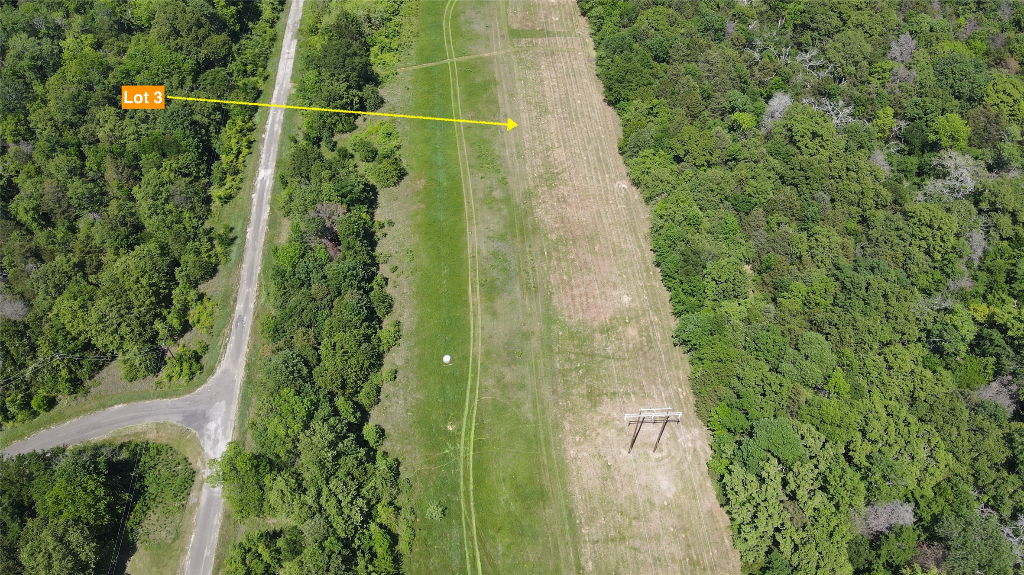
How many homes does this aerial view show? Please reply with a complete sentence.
The picture shows no homes.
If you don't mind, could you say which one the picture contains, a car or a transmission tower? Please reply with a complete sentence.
I can see a transmission tower in this picture.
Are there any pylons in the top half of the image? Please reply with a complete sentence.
No, there is no pylon in the top half of the image.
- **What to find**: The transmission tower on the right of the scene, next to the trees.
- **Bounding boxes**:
[625,406,681,455]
